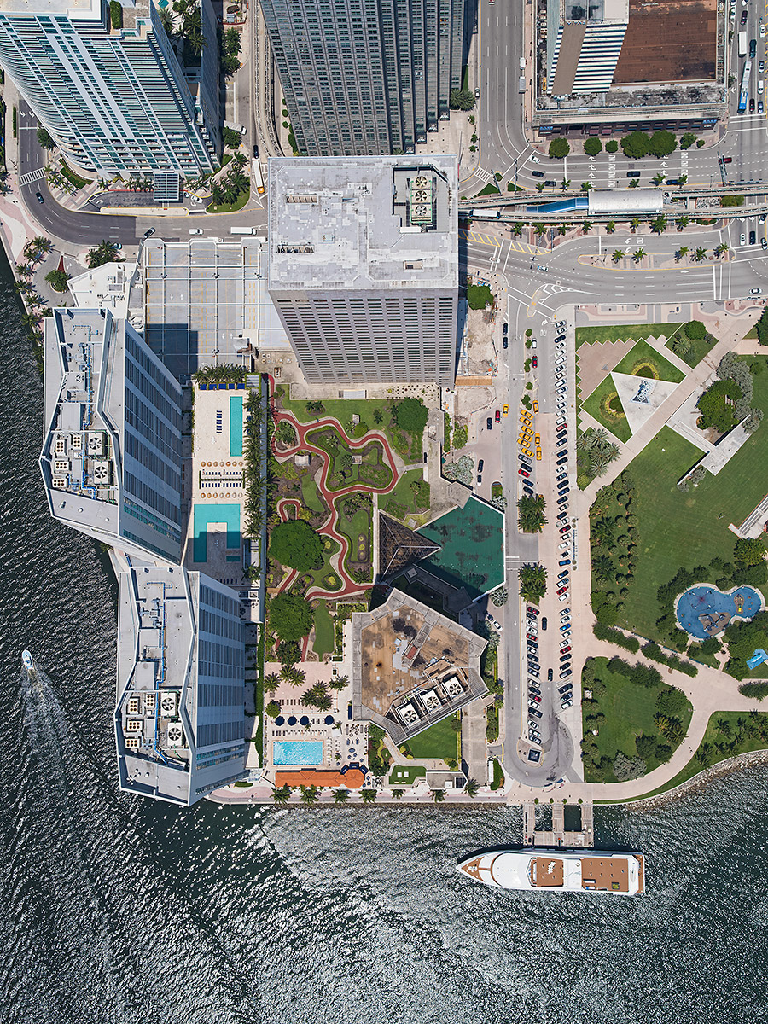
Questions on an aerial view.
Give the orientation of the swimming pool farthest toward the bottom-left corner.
horizontally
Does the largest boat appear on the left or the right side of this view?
right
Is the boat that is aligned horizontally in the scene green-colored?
No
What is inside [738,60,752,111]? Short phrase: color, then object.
white vehicle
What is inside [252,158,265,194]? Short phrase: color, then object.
white vehicle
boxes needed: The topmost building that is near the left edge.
[0,0,223,207]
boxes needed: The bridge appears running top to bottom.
[253,0,284,159]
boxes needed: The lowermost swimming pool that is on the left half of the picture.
[274,741,322,765]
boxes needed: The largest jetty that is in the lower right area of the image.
[523,805,595,848]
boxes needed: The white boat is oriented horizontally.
[457,846,642,896]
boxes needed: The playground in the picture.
[677,586,761,638]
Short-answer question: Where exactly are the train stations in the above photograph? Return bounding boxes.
[512,190,683,217]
